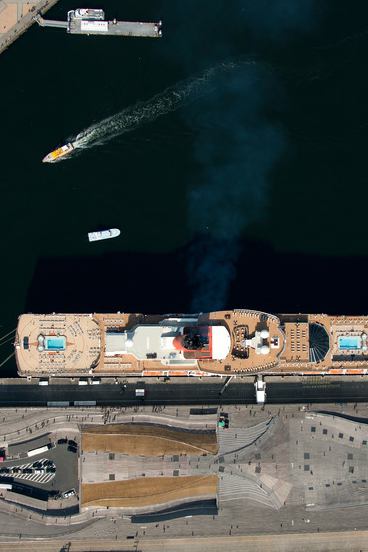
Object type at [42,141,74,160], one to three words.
boat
